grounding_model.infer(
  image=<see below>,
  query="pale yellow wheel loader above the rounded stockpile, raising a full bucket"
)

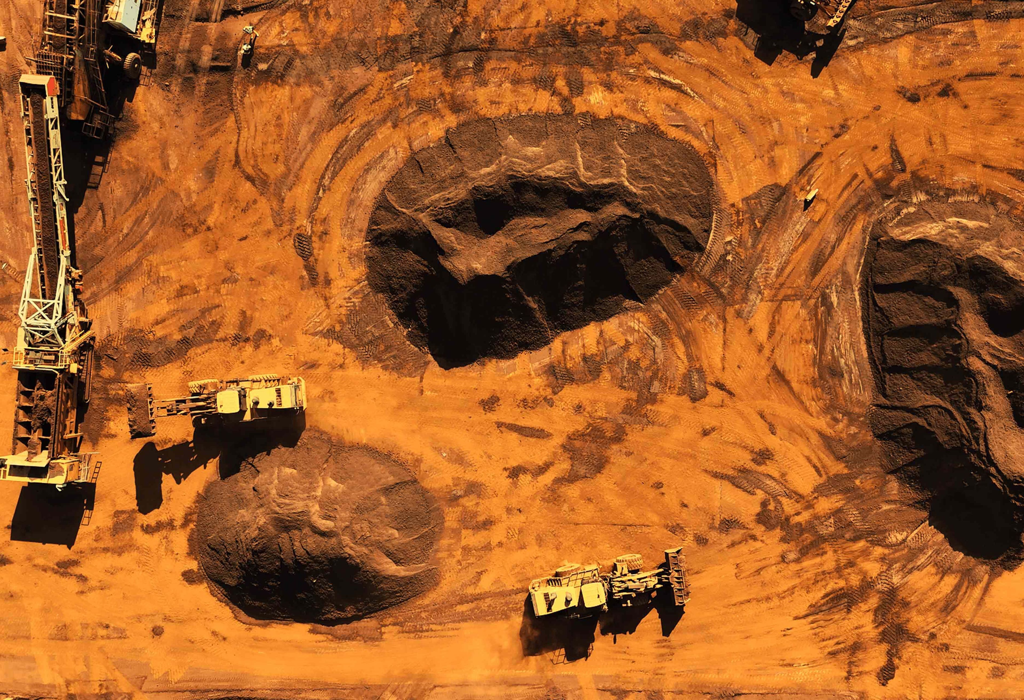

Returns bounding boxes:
[117,372,310,438]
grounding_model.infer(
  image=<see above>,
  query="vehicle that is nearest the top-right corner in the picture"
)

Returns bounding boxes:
[784,0,864,44]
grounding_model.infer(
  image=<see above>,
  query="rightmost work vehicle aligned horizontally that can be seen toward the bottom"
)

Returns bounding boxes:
[523,540,693,617]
